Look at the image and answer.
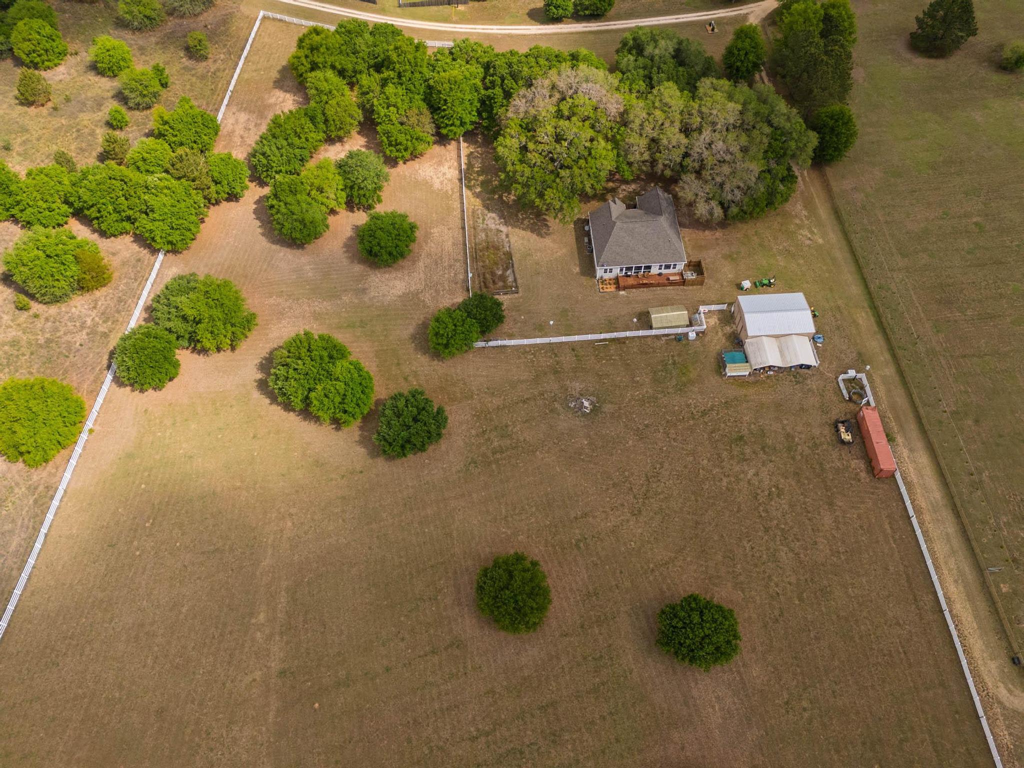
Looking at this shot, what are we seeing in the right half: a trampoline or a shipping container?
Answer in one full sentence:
What appears in the right half is a shipping container.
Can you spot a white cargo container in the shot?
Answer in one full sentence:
No, I can see no white cargo container in this picture.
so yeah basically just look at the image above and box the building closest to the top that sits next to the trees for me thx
[587,185,689,277]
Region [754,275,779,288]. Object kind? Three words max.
vehicle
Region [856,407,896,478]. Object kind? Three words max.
shipping container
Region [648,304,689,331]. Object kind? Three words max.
shed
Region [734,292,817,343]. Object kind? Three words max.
barn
